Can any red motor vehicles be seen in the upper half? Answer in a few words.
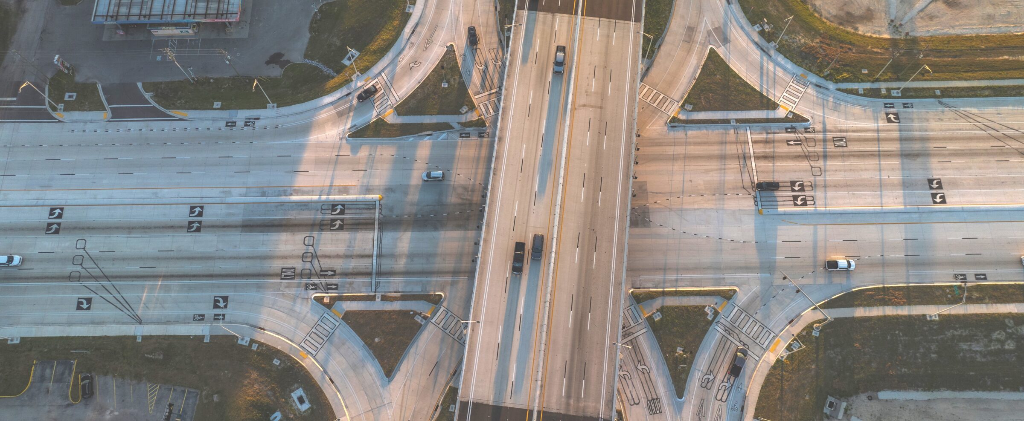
No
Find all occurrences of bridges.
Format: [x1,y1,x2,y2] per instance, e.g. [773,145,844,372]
[456,0,645,421]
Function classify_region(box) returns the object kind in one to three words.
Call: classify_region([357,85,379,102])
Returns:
car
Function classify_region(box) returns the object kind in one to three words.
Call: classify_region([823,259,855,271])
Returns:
vehicle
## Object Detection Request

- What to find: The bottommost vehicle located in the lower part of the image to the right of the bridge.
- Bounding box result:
[726,347,748,380]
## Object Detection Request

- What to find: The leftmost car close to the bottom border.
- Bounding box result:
[80,373,96,401]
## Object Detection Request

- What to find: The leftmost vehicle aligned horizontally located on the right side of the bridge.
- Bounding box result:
[754,180,780,192]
